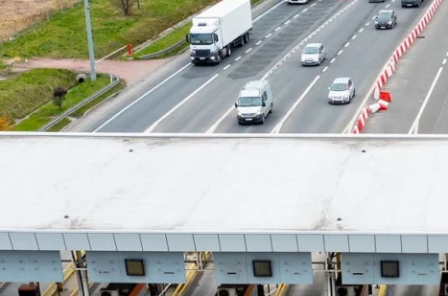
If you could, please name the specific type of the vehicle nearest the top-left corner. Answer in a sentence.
Specifically, the vehicle nearest the top-left corner is a truck.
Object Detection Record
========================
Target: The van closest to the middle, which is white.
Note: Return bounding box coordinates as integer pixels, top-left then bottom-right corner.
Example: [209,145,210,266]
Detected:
[239,82,275,121]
